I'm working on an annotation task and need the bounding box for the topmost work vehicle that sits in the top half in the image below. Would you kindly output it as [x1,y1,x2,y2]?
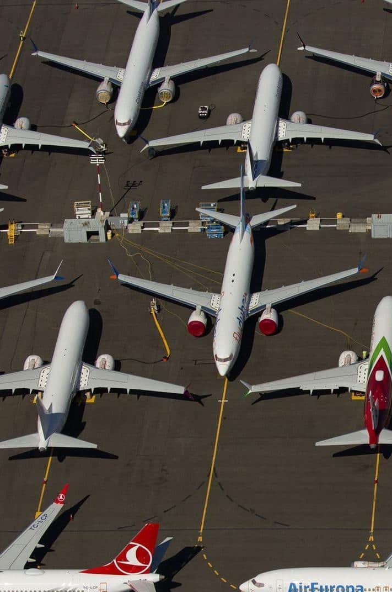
[198,105,210,119]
